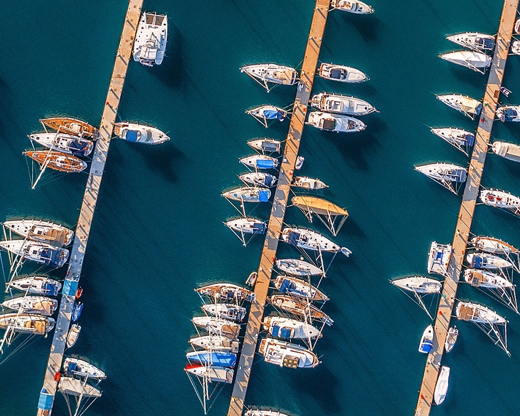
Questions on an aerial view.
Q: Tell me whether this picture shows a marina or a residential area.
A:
marina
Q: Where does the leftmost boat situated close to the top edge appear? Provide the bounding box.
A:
[133,12,171,64]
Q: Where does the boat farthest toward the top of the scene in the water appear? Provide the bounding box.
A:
[331,0,380,17]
